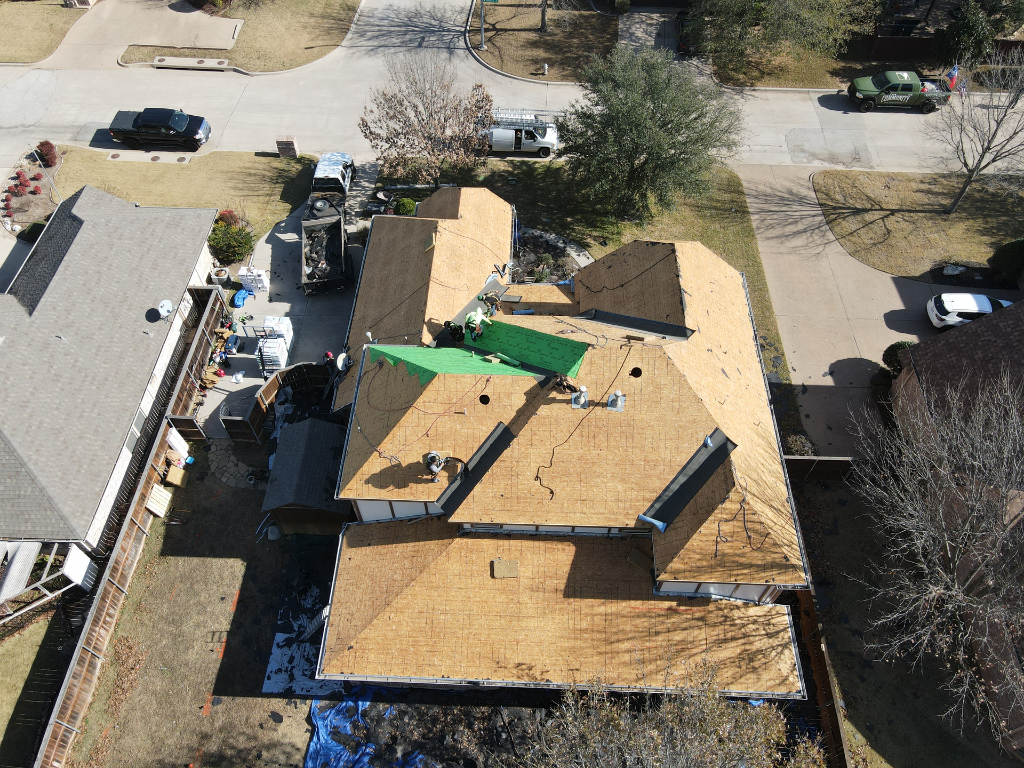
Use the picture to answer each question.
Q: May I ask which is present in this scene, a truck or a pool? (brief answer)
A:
truck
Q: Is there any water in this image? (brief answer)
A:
No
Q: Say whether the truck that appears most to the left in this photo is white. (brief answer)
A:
No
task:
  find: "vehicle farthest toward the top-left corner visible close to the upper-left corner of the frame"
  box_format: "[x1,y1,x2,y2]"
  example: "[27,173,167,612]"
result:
[110,107,216,153]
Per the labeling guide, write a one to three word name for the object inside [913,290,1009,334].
car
